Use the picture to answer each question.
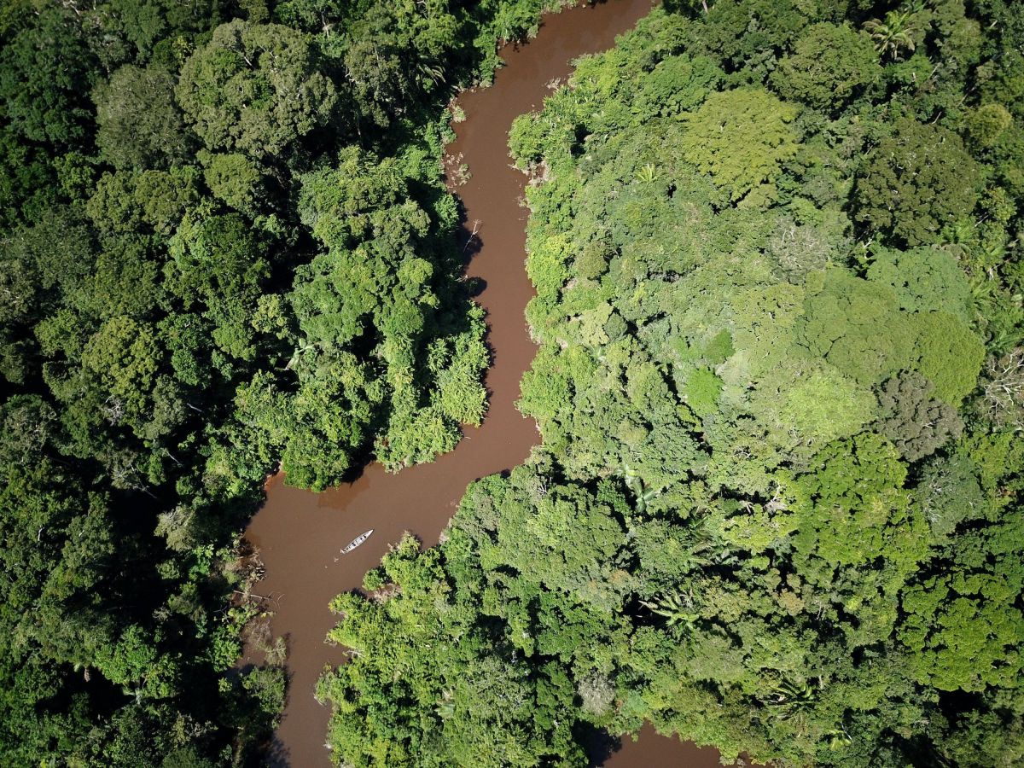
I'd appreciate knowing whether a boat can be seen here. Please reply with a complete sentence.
Yes, there is a boat in the image.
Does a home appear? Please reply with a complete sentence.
No, the frame has no home in it.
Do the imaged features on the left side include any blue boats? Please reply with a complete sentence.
No, no blue boat is visible on the left side.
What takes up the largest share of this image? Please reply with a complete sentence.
The bulk of the photo consists of trees.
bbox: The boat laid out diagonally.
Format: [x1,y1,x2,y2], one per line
[338,531,372,555]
